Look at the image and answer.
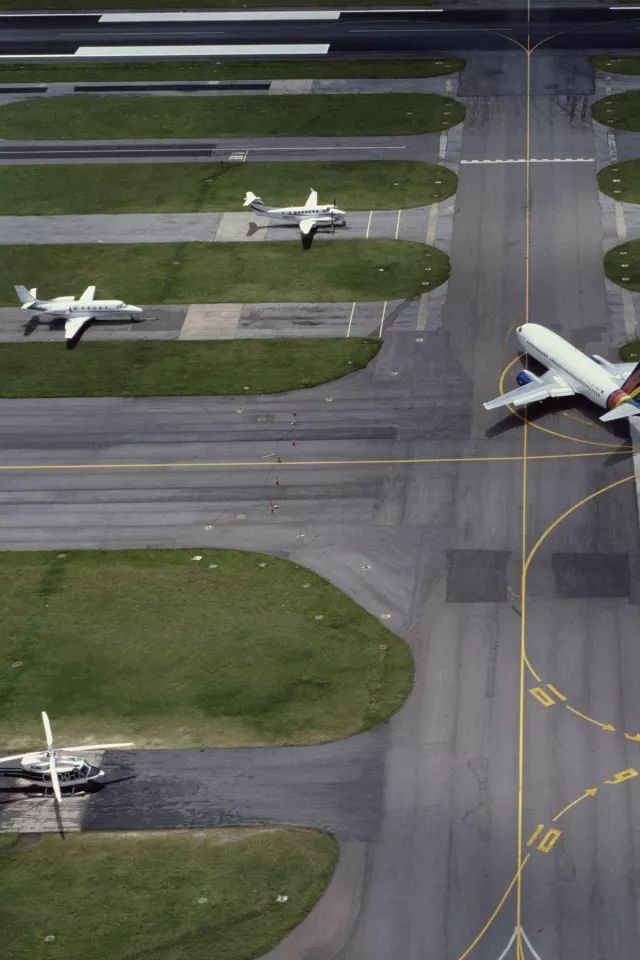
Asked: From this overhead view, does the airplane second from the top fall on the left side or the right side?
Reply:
left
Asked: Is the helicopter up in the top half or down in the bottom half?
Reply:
bottom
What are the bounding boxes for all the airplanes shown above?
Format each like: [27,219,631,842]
[480,322,640,419]
[242,188,344,233]
[9,286,141,338]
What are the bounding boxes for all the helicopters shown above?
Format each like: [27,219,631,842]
[0,712,135,800]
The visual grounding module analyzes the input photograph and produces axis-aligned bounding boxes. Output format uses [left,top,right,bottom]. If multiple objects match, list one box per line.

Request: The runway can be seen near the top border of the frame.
[0,5,640,62]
